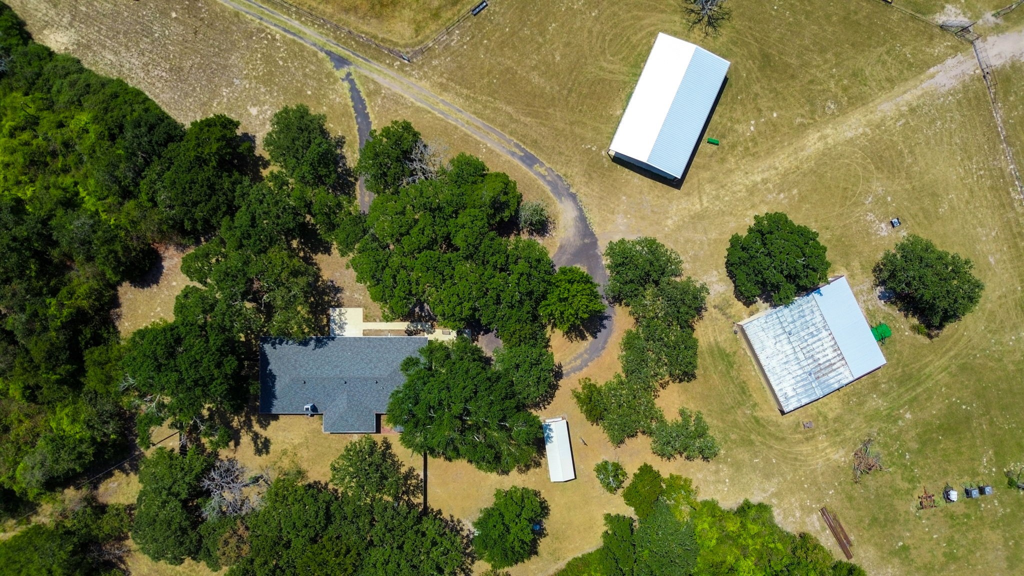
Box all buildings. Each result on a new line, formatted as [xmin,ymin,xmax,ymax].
[736,275,886,412]
[259,336,436,433]
[542,417,575,482]
[607,32,730,182]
